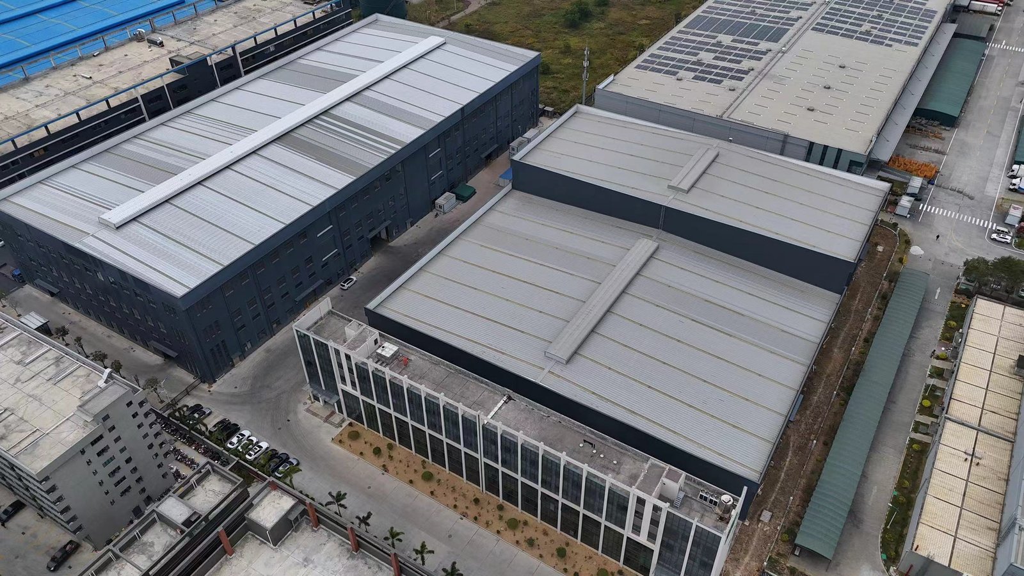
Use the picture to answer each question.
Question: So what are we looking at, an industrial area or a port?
industrial area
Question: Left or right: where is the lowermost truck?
left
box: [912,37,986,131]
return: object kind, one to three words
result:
shed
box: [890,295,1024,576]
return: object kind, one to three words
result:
building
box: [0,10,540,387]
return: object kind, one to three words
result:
building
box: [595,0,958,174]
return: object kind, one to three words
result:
warehouse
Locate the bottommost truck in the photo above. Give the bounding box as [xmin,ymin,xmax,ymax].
[41,539,77,571]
